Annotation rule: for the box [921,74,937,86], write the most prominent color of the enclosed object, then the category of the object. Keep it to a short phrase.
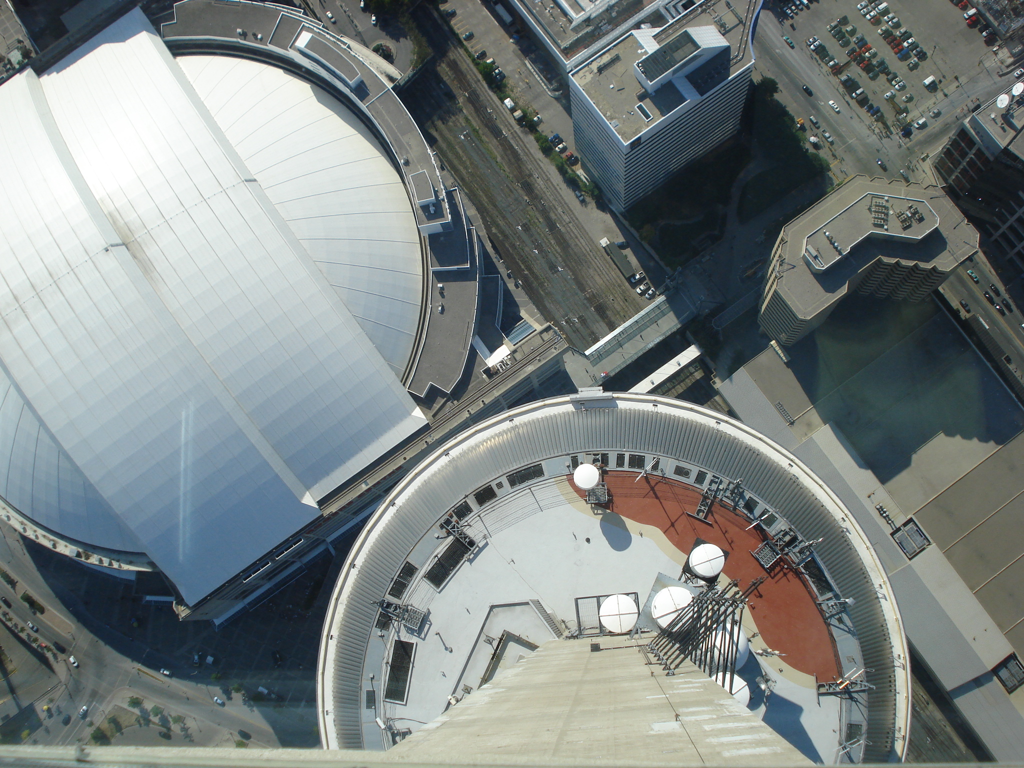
white vehicle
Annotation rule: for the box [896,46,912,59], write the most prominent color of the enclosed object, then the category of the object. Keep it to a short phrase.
blue vehicle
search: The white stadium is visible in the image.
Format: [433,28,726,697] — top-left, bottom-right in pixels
[0,0,573,635]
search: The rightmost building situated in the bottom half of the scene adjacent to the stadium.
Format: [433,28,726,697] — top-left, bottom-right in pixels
[715,295,1024,764]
